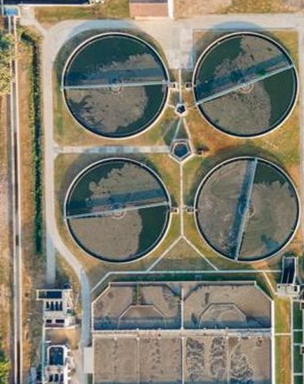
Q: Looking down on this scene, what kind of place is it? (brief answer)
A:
industrial area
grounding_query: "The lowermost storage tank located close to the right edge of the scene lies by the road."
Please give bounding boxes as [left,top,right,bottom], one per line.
[194,156,301,263]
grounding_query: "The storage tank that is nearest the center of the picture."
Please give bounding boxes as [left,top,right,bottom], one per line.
[65,159,173,264]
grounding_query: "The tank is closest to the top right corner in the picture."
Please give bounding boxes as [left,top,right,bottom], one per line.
[193,32,299,138]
